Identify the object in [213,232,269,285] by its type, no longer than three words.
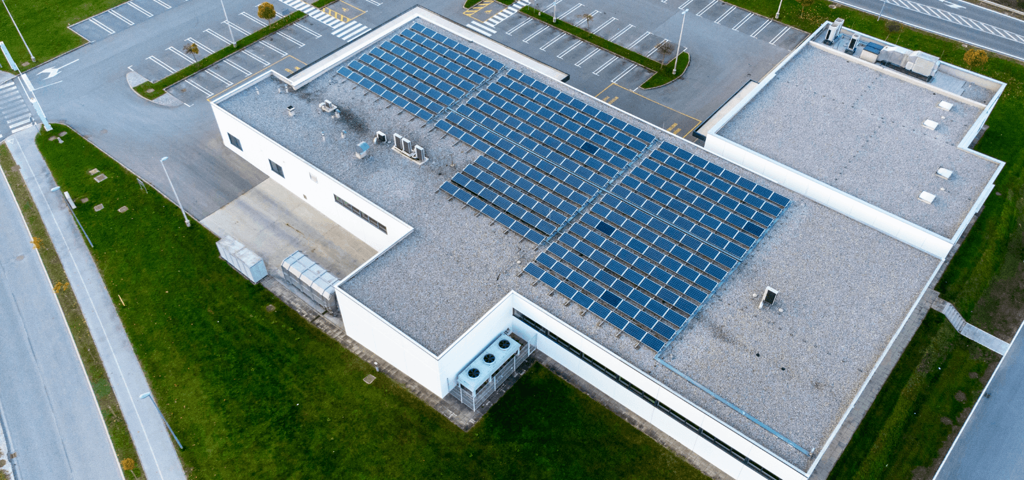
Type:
shipping container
